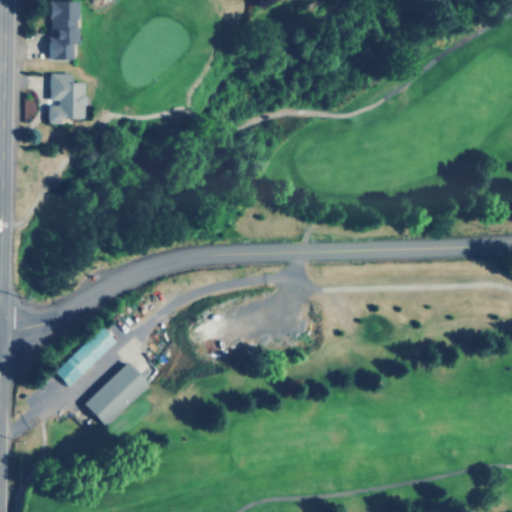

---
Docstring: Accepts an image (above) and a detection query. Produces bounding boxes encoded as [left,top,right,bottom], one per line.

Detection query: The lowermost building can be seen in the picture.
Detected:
[86,364,149,427]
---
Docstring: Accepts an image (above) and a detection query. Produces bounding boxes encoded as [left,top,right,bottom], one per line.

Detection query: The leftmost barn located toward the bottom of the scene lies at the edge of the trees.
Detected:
[56,328,117,388]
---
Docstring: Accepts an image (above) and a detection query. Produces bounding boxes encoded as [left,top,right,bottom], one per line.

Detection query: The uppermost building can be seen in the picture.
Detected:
[49,0,83,60]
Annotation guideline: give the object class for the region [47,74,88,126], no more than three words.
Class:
house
